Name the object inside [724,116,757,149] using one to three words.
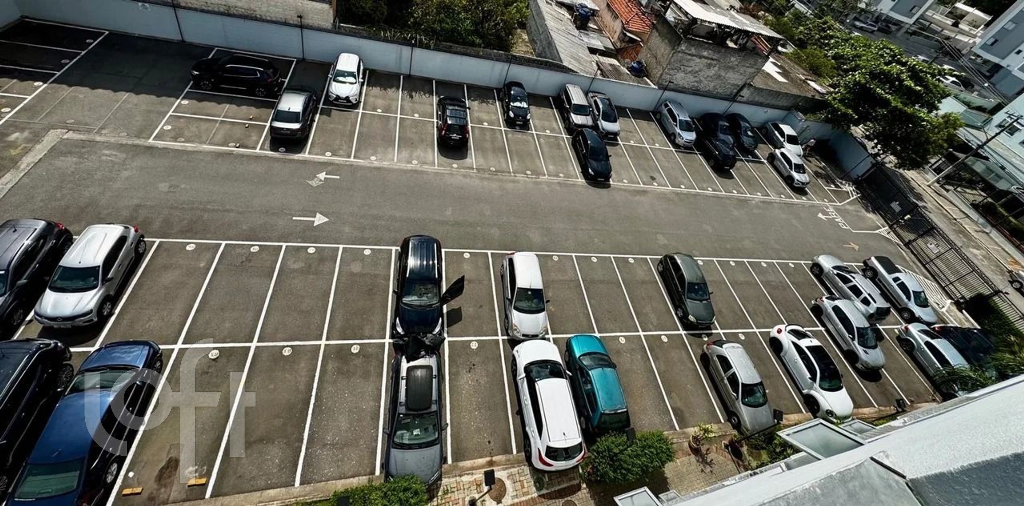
car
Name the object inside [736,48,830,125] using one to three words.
building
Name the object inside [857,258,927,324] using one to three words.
truck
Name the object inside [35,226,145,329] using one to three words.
car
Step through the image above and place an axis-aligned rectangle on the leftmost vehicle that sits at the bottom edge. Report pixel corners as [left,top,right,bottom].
[0,339,71,498]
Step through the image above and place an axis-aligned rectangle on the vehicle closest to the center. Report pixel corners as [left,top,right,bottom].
[501,255,549,340]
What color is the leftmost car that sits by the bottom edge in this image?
black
